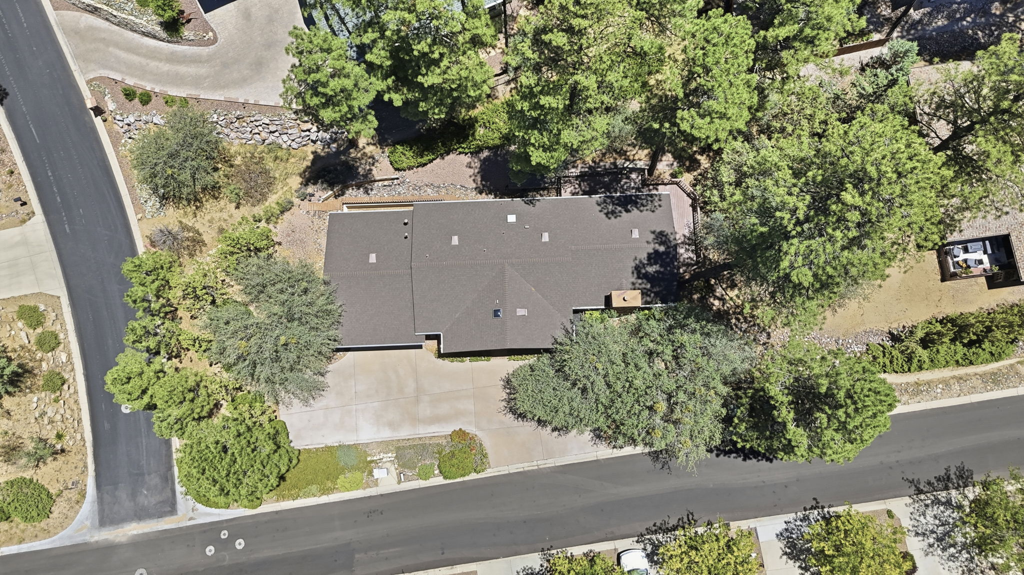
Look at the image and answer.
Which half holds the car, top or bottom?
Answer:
bottom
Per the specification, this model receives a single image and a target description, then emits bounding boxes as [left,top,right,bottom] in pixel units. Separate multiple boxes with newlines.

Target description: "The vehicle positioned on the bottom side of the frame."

[619,548,653,575]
